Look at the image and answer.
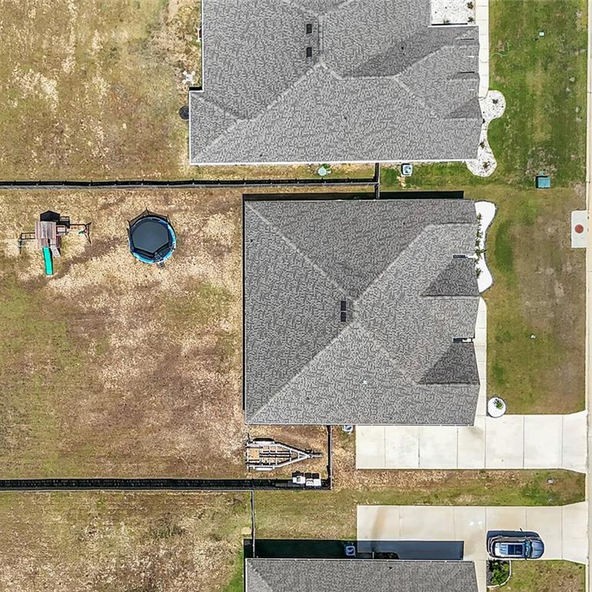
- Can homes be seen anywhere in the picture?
Yes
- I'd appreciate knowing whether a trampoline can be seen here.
Yes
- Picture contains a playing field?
No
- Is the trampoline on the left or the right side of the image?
left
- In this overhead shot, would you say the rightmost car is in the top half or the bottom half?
bottom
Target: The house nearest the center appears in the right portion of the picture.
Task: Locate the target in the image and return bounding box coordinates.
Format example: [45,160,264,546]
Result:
[243,199,479,427]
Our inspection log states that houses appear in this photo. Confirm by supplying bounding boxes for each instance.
[244,555,477,592]
[188,0,482,164]
[243,199,479,427]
